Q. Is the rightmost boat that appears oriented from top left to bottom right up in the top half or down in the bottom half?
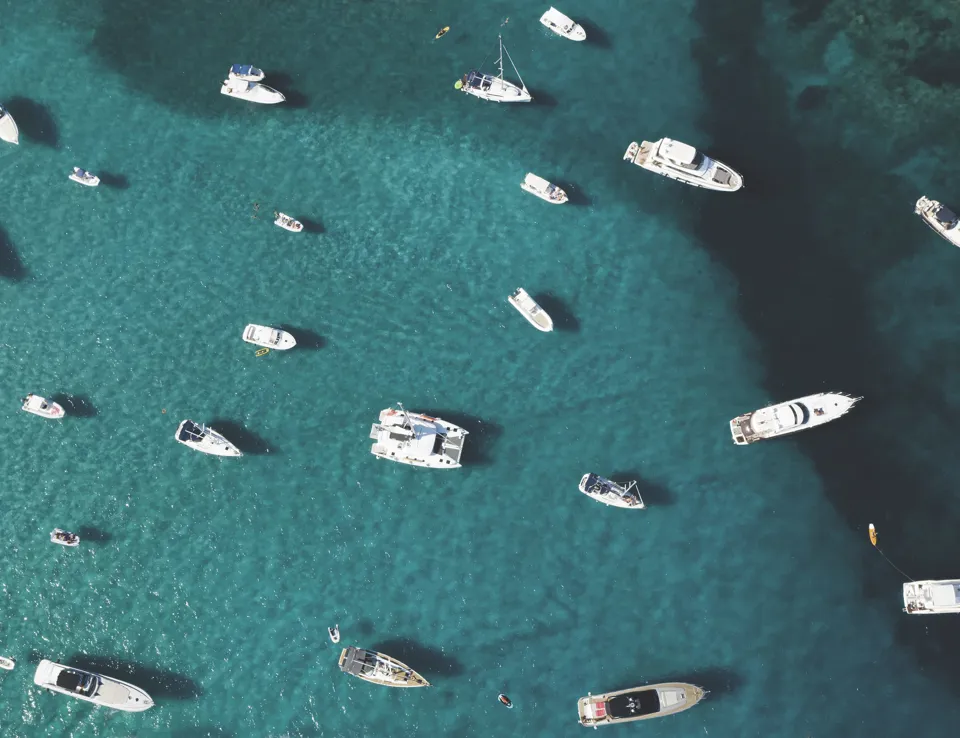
top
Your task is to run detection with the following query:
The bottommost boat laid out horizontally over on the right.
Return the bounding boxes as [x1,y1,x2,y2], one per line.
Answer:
[576,683,710,730]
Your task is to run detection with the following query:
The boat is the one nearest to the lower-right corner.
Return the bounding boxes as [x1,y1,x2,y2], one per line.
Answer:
[899,580,960,613]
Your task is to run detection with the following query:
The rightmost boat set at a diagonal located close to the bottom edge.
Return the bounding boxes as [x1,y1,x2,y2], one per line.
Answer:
[497,693,513,708]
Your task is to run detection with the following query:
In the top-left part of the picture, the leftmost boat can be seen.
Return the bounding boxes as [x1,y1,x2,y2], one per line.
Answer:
[0,109,21,145]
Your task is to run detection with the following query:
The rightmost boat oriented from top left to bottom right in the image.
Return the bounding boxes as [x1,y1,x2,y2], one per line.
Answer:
[909,200,960,249]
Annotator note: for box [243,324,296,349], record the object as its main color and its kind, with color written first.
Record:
white boat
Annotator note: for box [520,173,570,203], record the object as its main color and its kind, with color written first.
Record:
white boat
